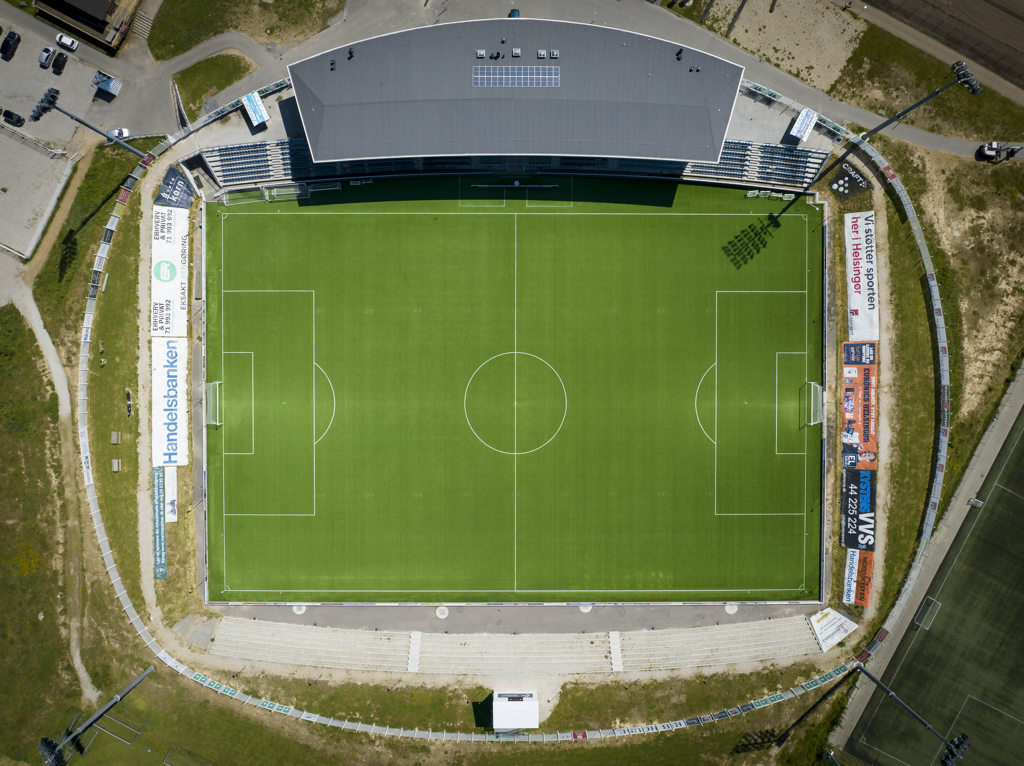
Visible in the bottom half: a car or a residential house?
residential house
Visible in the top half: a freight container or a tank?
freight container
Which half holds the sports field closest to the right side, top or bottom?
bottom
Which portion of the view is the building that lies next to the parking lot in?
top left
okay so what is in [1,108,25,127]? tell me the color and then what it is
black car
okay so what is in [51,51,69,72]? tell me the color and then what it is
black car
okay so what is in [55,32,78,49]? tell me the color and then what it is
white car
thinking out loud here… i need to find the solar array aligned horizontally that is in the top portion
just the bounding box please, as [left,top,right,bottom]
[473,66,560,86]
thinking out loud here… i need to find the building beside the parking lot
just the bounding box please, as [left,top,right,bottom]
[26,0,151,53]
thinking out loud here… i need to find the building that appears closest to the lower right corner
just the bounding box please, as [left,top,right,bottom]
[493,691,539,741]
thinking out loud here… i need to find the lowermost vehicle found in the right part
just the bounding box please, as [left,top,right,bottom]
[980,142,1023,159]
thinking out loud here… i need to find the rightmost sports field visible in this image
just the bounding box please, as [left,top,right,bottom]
[843,408,1024,766]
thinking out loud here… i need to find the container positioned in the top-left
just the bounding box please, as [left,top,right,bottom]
[91,70,129,99]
